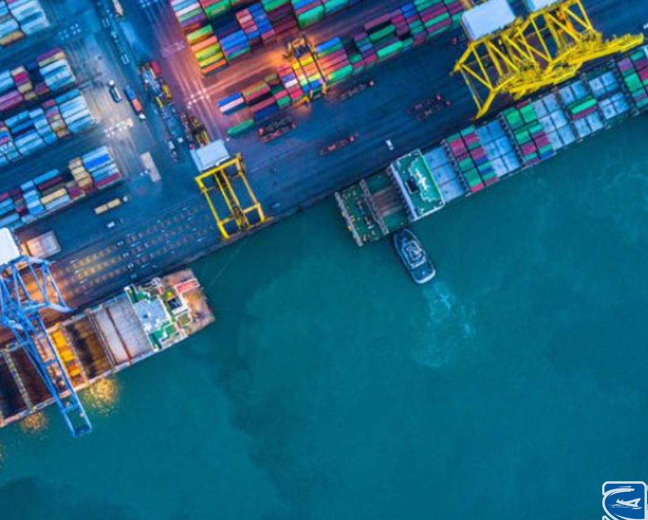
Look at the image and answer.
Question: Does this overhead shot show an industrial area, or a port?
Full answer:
What you see here is a port.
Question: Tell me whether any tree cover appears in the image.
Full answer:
No, tree cover can't be seen anywhere here.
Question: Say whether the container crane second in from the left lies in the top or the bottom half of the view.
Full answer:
The container crane second in from the left is in the top half of the image.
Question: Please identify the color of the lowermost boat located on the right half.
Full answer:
In this view, the lowermost boat located on the right half is blue.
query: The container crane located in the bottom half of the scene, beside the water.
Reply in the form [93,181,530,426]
[0,226,97,444]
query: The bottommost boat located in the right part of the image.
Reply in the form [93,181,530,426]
[397,230,435,286]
